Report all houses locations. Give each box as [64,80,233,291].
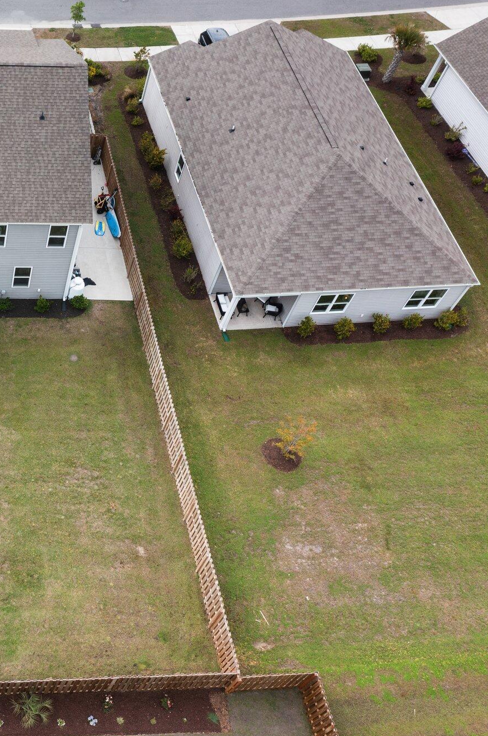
[0,29,97,301]
[421,16,488,167]
[140,22,480,330]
